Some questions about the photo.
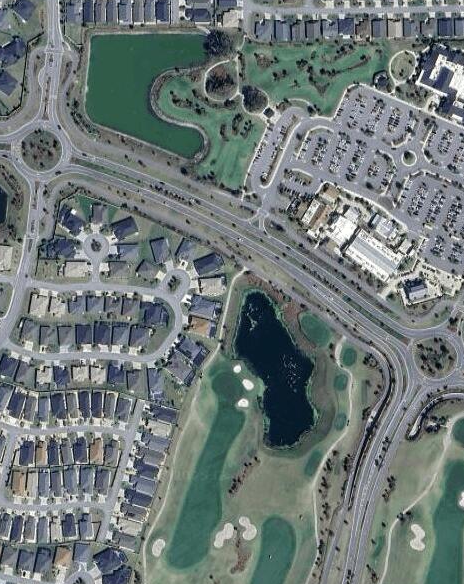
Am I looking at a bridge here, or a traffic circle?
traffic circle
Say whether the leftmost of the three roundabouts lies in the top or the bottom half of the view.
top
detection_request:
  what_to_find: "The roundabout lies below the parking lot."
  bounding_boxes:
[403,327,464,389]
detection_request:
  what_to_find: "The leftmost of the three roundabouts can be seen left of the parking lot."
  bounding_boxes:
[11,120,72,181]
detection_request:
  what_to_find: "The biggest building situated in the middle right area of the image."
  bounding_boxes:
[346,230,402,279]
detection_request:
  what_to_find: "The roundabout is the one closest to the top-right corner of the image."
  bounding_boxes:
[394,144,424,173]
